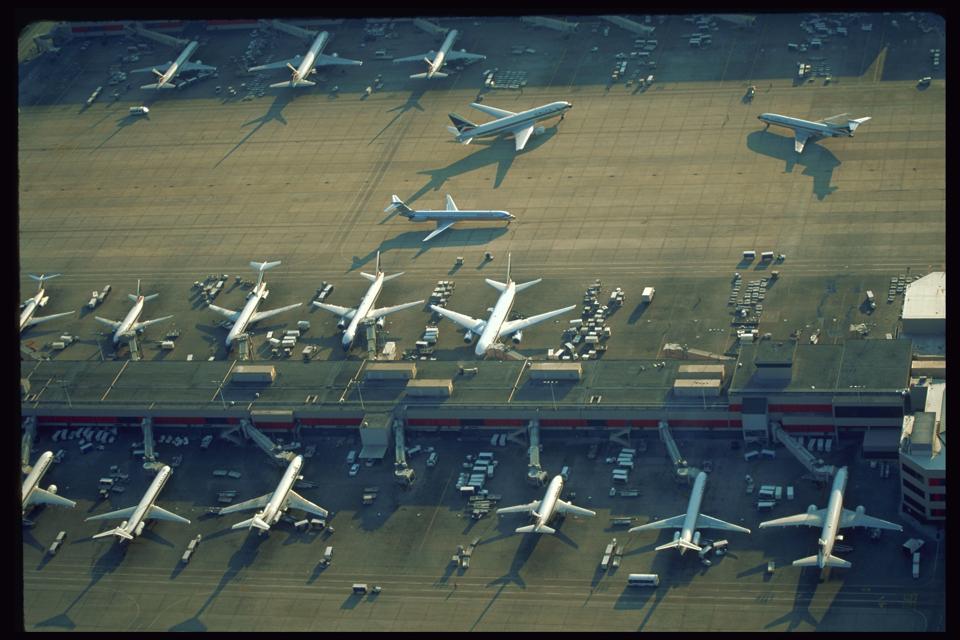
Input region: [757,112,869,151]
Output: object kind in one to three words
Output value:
airplane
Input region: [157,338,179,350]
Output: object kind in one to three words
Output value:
vehicle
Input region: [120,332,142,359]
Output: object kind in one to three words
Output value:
jet bridge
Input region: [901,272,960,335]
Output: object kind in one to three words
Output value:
building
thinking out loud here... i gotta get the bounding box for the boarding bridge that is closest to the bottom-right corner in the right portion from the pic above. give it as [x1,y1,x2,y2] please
[770,428,836,487]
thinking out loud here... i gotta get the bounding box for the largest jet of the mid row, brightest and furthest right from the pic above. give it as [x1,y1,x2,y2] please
[431,252,573,357]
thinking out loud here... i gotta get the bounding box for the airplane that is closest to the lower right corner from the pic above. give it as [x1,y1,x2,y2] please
[759,465,903,566]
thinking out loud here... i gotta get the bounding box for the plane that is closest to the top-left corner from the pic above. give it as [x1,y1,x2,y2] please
[131,40,218,88]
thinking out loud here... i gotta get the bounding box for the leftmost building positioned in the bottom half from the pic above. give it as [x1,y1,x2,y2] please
[0,359,734,467]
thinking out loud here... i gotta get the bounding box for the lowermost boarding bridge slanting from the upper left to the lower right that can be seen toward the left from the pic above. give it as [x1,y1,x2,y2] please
[234,423,293,472]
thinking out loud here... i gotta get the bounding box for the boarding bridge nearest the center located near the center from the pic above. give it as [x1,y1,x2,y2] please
[492,343,537,359]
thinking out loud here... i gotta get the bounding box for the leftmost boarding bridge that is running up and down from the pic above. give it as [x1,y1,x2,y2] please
[17,416,39,479]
